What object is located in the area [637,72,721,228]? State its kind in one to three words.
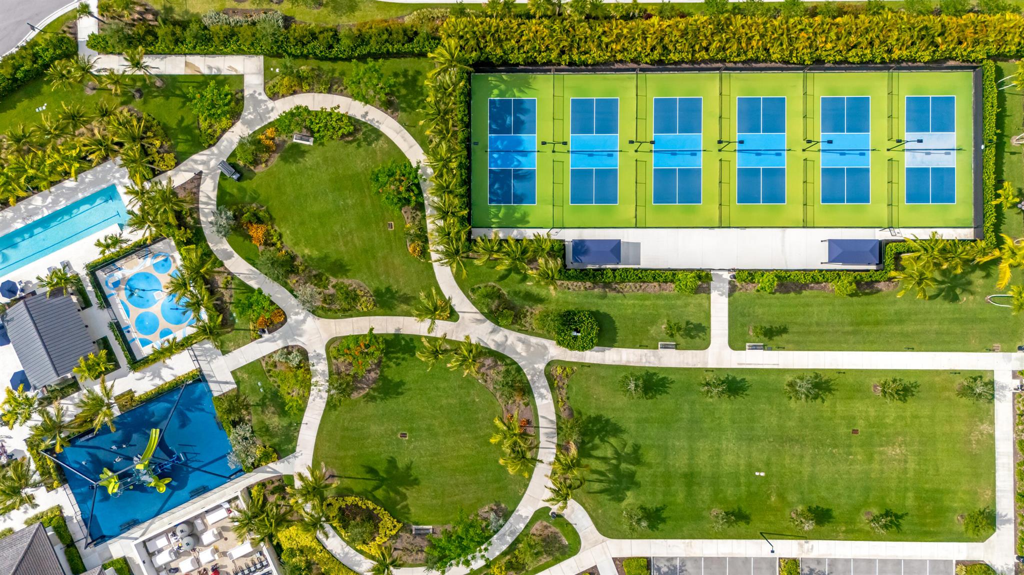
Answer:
sports court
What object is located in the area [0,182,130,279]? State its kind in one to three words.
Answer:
swimming pool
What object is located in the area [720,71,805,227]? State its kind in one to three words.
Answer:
sports court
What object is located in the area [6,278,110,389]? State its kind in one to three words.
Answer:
building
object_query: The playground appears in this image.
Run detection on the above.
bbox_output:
[54,381,242,552]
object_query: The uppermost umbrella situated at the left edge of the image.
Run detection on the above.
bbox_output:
[1,280,23,300]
